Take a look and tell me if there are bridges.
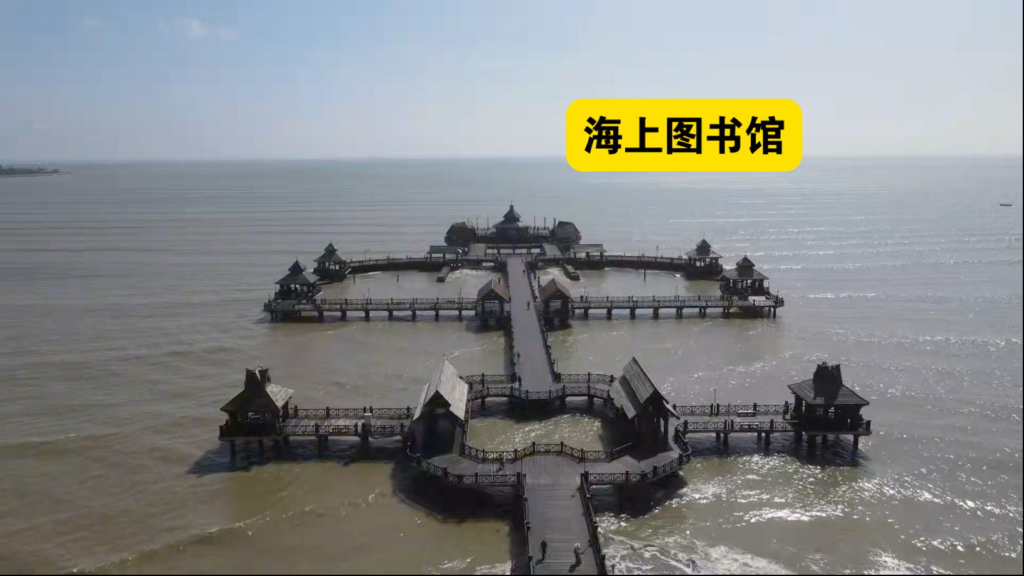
Yes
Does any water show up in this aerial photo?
Yes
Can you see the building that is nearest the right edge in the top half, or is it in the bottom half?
bottom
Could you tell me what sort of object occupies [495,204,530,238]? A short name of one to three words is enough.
building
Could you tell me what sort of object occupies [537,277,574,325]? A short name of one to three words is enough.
shed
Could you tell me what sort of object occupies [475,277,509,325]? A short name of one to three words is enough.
shed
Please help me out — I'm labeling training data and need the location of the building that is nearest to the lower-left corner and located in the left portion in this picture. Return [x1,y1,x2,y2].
[211,361,302,456]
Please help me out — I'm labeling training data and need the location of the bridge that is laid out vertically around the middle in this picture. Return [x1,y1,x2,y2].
[506,261,554,383]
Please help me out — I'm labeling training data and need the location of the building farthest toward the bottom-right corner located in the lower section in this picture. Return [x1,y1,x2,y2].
[775,355,871,451]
